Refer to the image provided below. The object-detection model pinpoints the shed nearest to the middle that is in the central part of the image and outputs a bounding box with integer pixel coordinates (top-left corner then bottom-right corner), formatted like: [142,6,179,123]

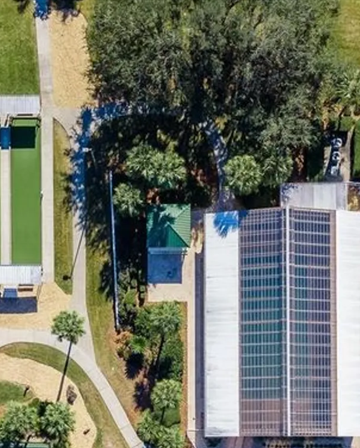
[147,204,191,284]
